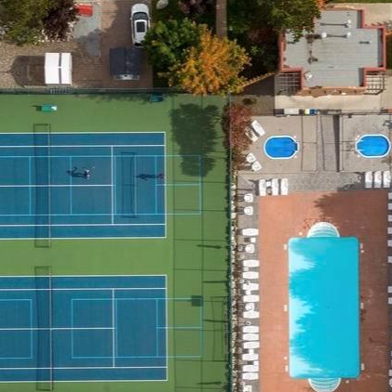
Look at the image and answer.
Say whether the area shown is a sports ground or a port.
sports ground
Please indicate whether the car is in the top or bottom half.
top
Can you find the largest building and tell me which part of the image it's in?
top right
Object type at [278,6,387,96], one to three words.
building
